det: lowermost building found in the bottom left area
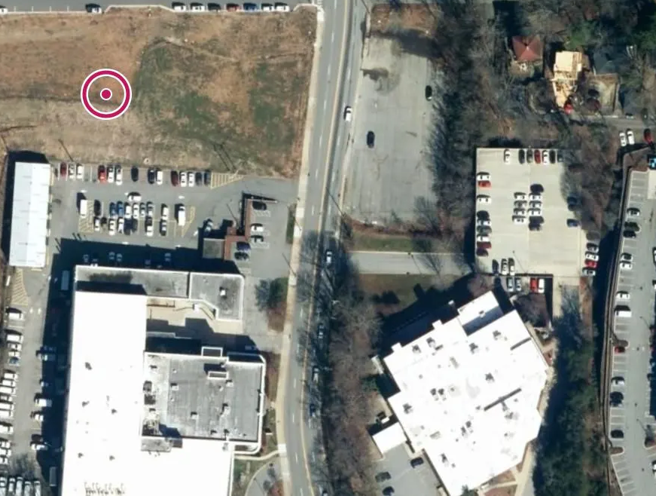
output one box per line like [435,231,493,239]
[61,265,266,496]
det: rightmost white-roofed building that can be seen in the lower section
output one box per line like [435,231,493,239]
[371,291,548,496]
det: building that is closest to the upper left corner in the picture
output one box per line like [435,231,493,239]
[9,163,51,267]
